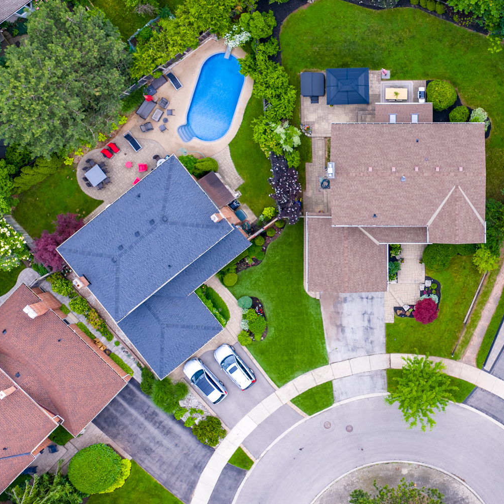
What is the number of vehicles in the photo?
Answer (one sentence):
Looking from above, you can make out 2 vehicles.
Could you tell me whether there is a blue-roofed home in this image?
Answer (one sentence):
Yes, looking at the shot, I can spot a blue-roofed home.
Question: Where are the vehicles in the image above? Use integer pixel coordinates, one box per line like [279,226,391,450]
[216,343,256,393]
[184,358,228,406]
